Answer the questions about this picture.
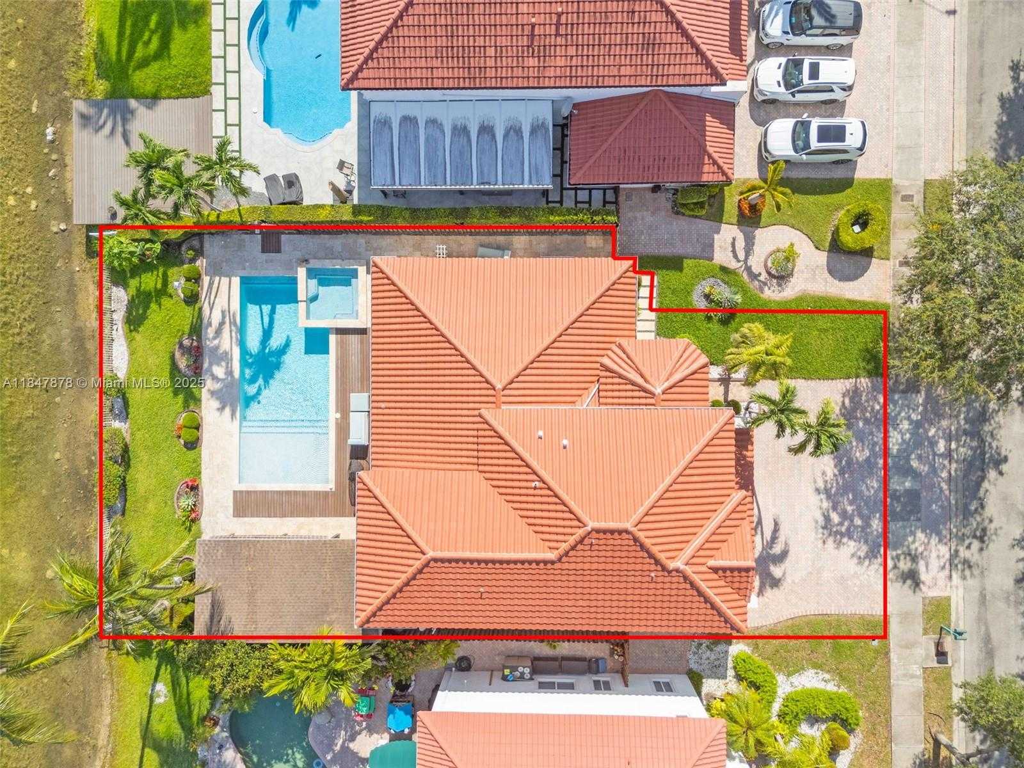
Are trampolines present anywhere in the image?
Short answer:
No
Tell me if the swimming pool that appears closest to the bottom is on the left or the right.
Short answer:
left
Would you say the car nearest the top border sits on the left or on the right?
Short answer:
right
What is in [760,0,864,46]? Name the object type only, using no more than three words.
car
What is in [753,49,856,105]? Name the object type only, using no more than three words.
car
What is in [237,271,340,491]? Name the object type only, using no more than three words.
swimming pool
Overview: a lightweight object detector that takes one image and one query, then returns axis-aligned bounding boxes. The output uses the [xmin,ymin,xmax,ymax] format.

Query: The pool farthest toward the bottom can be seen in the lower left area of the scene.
[225,679,327,768]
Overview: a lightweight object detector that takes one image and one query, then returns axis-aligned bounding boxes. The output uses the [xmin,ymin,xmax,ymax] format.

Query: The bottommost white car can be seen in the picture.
[761,110,867,165]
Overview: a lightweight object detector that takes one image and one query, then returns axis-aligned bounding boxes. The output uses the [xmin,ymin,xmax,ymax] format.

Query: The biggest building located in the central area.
[352,254,761,637]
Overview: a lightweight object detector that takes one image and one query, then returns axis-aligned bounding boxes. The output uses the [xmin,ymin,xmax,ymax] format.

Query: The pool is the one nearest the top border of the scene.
[248,0,353,144]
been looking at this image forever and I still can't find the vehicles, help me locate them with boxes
[753,49,856,105]
[760,0,864,46]
[761,110,867,165]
